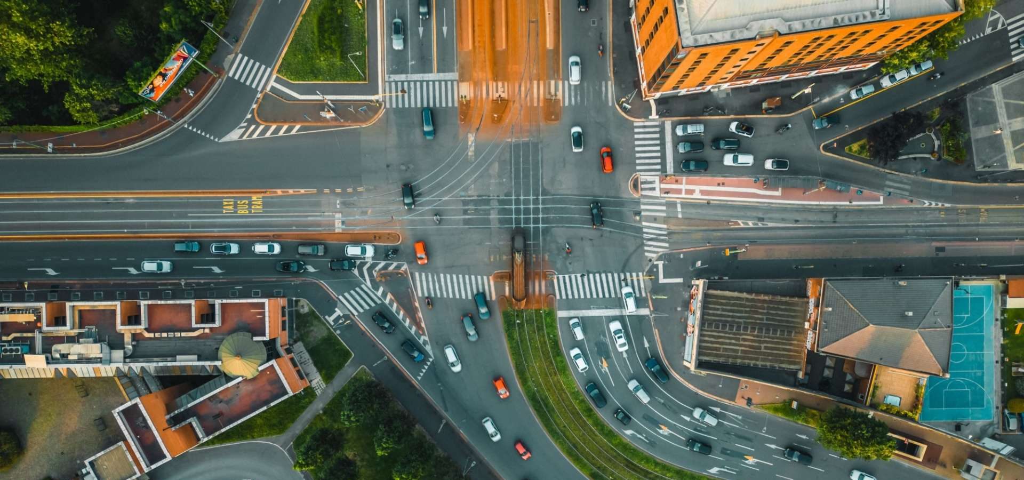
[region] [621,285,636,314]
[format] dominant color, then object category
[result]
white car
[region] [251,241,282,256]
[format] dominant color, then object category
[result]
white car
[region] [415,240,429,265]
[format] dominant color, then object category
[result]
orange car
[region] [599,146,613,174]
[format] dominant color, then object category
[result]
red car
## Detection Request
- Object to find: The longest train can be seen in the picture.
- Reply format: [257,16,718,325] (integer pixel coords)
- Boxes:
[511,232,526,310]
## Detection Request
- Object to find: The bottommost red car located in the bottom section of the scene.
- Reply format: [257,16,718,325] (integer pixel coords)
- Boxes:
[513,438,533,463]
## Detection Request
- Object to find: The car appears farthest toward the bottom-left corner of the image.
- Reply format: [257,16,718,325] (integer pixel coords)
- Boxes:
[141,259,174,273]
